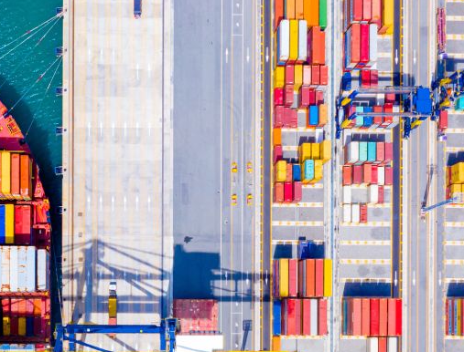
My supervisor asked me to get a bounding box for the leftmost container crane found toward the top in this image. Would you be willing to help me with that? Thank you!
[335,85,436,135]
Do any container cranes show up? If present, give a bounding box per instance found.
[432,68,464,120]
[0,313,311,352]
[335,85,436,135]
